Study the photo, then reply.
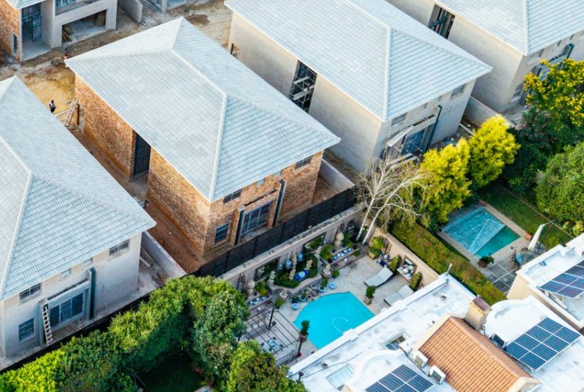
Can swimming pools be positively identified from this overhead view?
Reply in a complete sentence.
Yes, the picture does show a swimming pool.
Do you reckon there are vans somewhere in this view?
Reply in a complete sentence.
No, I can't see a single van in this photo.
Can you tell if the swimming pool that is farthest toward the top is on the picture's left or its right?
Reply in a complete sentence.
You can find the swimming pool that is farthest toward the top on the right side of the picture.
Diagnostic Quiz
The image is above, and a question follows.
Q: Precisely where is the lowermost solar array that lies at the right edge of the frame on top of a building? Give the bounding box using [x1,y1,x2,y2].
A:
[507,320,583,372]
